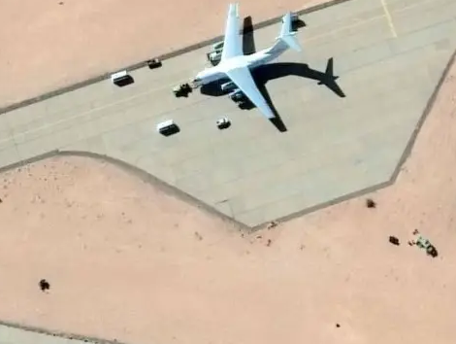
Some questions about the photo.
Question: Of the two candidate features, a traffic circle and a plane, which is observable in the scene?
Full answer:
The image shows a plane.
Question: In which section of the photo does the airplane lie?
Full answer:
The airplane is located in the top region of the scene.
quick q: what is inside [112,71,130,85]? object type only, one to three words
vehicle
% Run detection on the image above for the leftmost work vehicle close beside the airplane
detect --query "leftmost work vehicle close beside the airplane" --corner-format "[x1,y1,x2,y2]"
[175,84,198,96]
